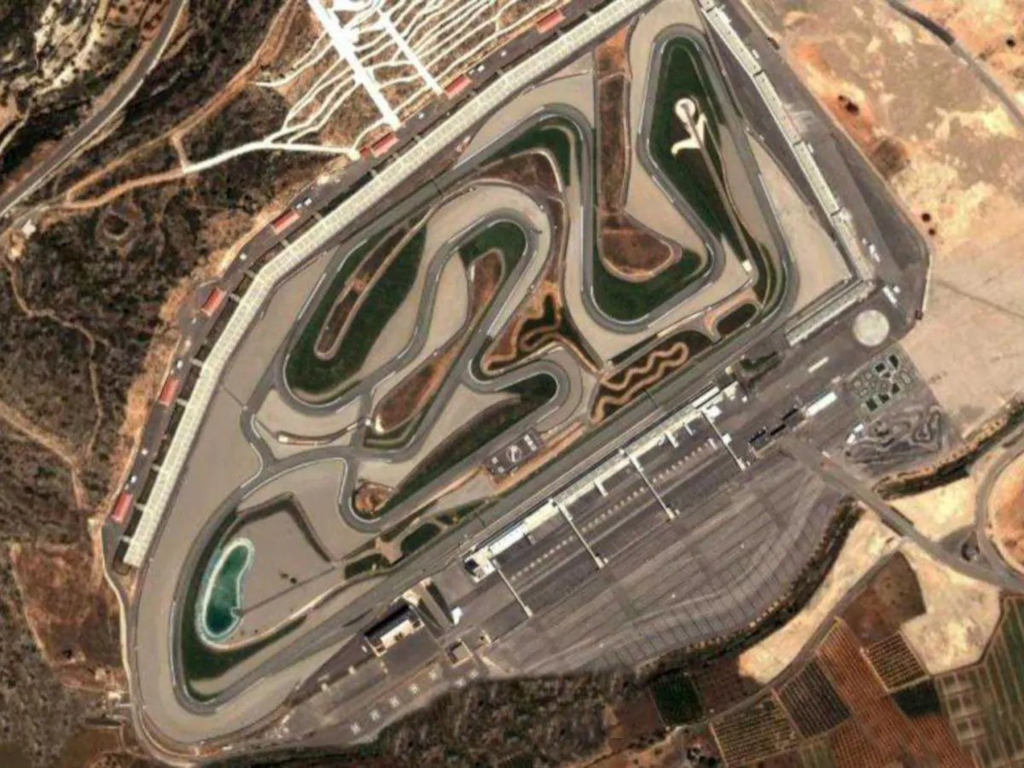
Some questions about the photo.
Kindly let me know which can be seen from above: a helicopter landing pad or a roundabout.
helicopter landing pad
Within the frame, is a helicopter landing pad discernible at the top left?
No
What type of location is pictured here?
sports ground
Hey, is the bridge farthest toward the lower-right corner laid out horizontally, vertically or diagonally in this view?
diagonally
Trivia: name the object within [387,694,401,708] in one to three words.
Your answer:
helipad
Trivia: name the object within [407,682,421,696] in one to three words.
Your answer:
helipad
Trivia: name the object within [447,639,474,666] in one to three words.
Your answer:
building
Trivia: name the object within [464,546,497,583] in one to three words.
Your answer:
building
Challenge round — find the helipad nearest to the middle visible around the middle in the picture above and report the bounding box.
[485,426,545,477]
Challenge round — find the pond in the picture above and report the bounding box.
[200,540,253,638]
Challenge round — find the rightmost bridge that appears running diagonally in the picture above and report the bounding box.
[861,487,909,531]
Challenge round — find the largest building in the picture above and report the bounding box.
[478,383,739,558]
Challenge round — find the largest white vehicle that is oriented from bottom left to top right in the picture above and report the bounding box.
[808,356,828,372]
